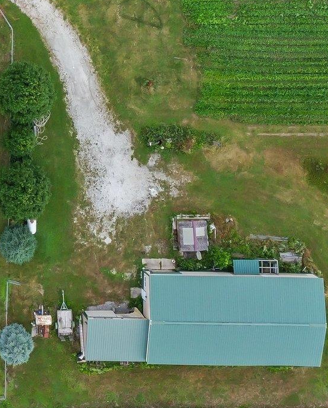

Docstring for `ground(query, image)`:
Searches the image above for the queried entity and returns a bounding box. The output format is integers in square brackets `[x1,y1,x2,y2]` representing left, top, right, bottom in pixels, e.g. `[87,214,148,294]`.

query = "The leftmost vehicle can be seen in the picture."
[34,305,51,337]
